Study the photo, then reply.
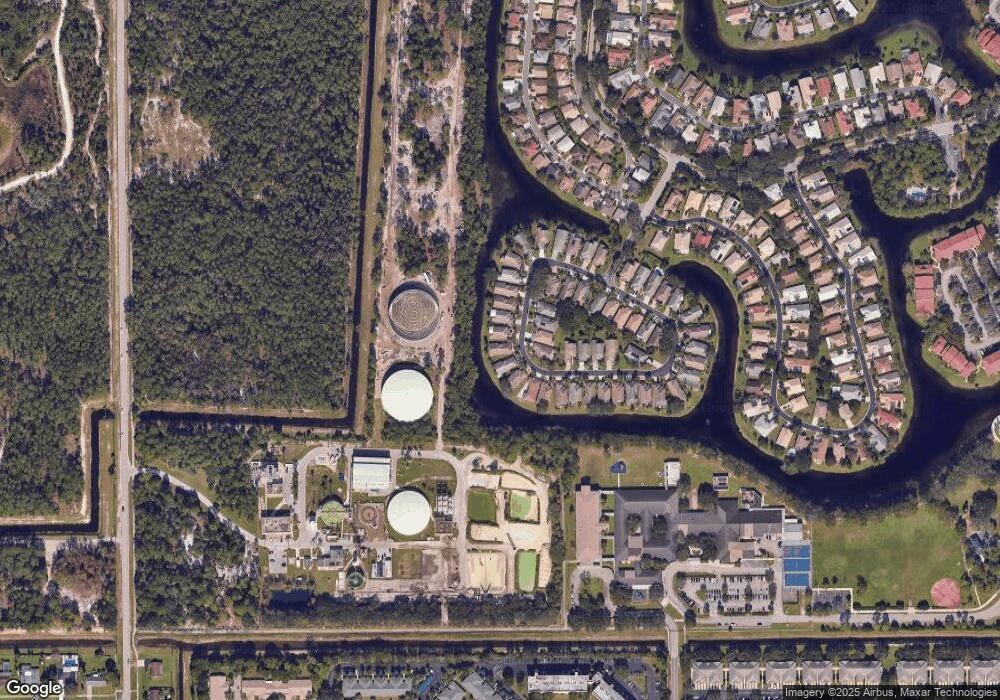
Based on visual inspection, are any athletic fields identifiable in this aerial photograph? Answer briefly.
Yes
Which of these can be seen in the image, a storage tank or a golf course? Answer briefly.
storage tank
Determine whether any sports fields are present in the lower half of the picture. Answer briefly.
Yes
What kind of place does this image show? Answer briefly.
residential area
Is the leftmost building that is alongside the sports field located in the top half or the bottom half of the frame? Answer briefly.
bottom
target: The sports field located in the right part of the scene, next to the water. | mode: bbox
[813,500,978,609]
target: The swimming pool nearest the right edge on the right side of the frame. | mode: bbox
[908,188,928,201]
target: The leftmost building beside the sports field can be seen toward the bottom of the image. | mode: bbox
[600,484,785,589]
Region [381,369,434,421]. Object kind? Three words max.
storage tank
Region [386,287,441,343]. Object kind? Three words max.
storage tank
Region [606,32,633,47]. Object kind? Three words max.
house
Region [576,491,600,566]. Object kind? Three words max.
building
